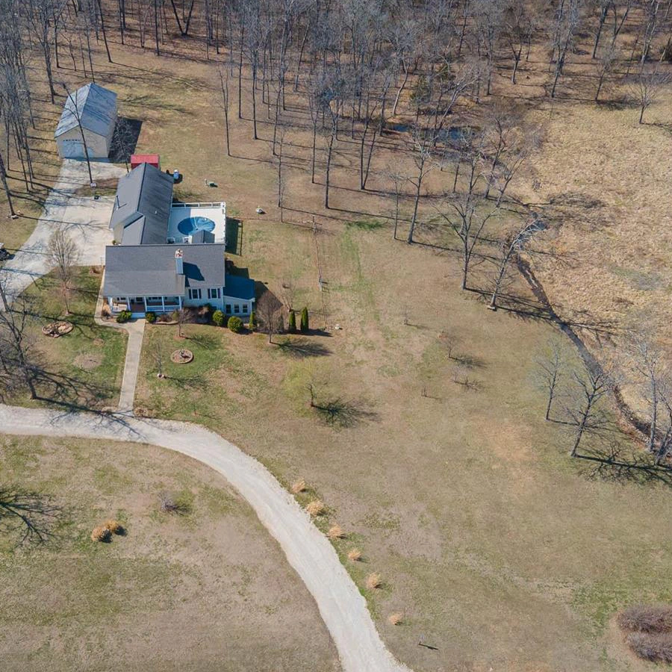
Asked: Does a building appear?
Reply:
Yes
